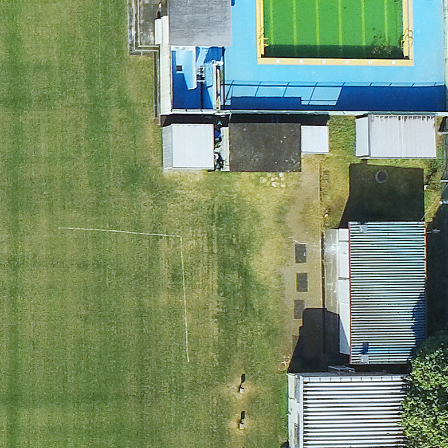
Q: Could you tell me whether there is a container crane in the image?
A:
No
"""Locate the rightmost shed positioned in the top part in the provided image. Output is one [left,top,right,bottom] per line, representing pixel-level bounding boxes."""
[343,115,436,159]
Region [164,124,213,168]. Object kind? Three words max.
shed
